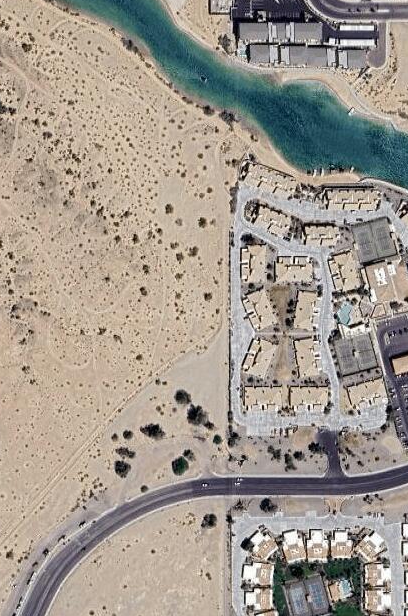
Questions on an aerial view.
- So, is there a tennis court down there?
Yes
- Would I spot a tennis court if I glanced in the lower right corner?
Yes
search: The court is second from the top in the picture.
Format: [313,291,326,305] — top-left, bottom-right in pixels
[333,332,378,376]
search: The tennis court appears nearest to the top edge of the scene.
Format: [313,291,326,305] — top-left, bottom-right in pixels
[352,217,397,264]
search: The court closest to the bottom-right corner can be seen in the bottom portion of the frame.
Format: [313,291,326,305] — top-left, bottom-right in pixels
[283,574,332,616]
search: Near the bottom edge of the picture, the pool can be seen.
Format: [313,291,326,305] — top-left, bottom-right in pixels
[339,578,353,595]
